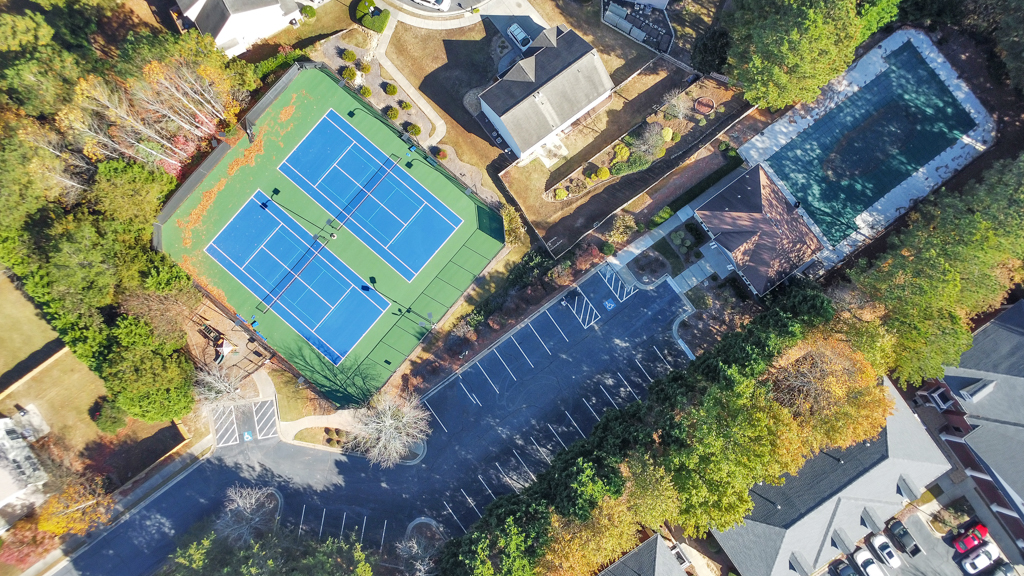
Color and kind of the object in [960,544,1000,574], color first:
white car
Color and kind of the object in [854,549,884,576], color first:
white car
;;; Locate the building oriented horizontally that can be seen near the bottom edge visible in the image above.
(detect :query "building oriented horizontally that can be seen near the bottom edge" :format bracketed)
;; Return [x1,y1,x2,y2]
[599,533,700,576]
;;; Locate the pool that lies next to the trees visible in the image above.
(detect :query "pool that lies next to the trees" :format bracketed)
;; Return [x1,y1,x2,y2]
[739,28,996,276]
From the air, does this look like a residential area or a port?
residential area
